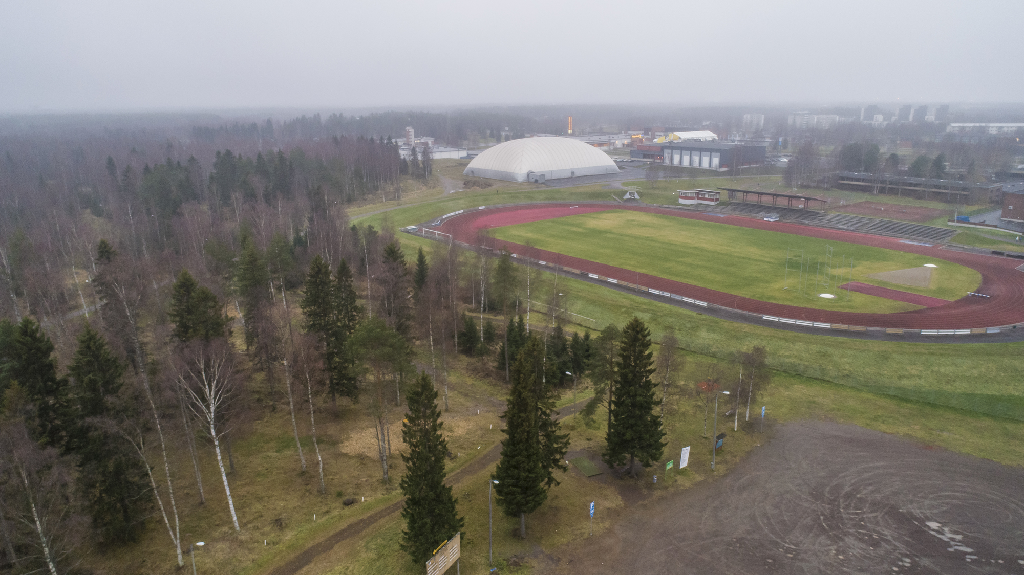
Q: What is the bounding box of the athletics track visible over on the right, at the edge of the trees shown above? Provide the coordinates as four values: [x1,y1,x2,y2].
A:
[440,202,1024,328]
